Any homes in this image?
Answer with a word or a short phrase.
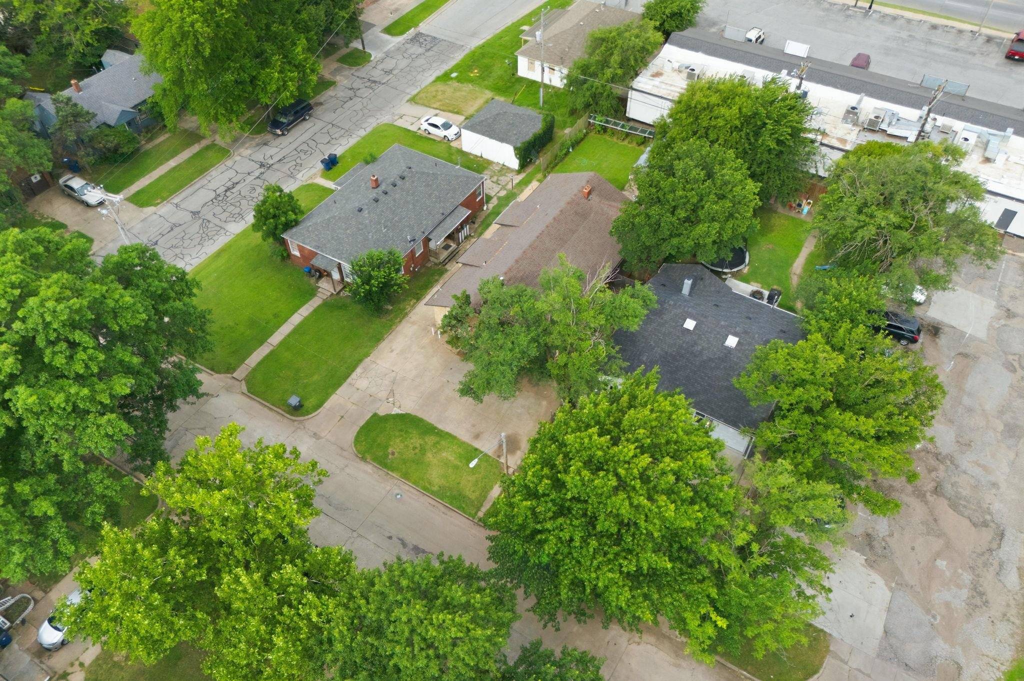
Yes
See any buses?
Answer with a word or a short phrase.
No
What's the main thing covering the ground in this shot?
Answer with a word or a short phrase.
trees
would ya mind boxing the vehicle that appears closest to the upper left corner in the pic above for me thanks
[59,177,105,207]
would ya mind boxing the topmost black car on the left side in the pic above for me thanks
[263,97,313,139]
